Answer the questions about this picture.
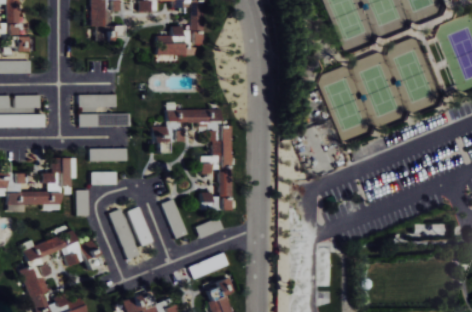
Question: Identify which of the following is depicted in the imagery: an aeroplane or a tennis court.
tennis court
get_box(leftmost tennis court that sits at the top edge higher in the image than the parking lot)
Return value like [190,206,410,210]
[322,0,374,52]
